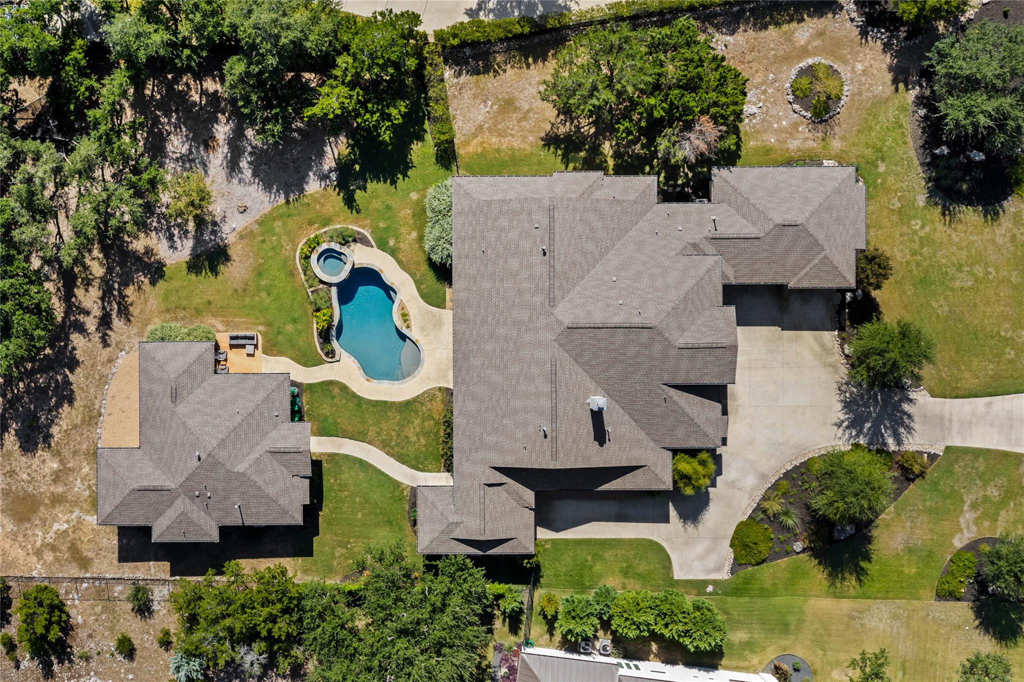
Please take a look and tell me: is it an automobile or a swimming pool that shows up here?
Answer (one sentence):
Looking from above, you can make out a swimming pool.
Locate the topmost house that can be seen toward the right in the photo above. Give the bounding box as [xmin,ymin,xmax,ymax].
[416,164,867,556]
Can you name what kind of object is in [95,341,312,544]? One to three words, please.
house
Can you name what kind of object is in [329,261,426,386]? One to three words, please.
swimming pool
